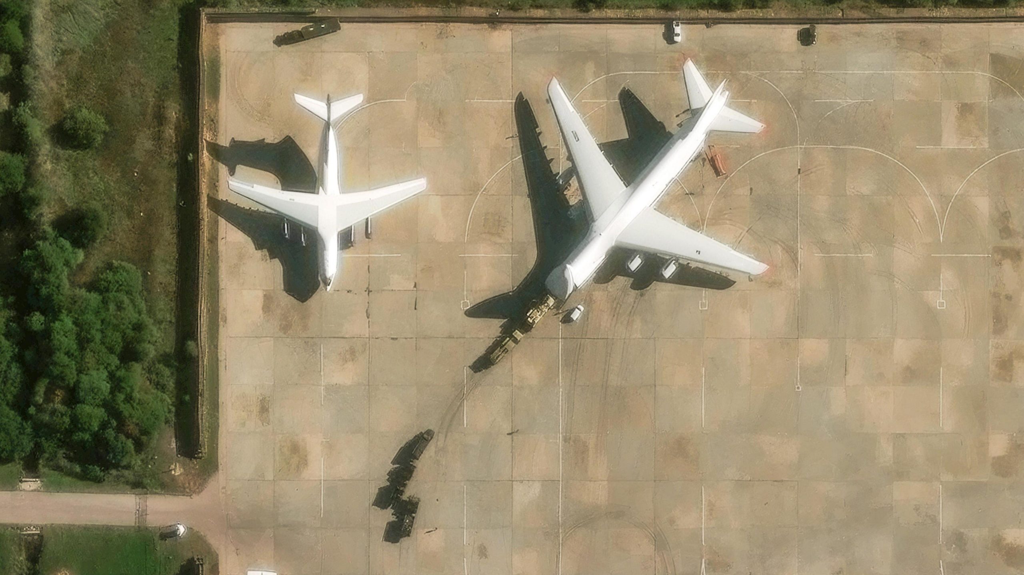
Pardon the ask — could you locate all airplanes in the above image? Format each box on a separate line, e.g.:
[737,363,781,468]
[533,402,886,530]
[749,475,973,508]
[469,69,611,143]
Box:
[544,59,768,307]
[230,92,427,290]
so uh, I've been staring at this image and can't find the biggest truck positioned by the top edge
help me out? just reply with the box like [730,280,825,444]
[276,19,340,46]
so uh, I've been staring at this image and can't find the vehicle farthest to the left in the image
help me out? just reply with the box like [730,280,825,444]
[157,526,186,542]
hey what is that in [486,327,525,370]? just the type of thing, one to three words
truck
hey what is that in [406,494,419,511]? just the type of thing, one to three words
vehicle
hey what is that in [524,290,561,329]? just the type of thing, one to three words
truck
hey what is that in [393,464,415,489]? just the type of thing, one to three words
vehicle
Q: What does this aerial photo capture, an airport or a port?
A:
airport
